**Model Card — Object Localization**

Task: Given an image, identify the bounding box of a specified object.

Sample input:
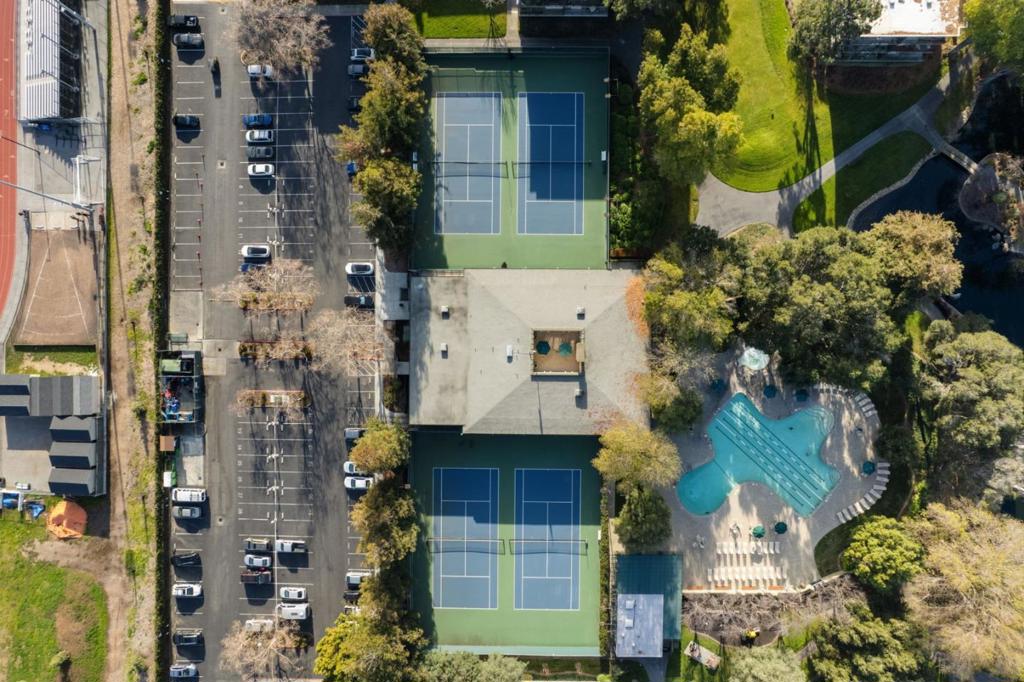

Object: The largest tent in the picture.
[49,501,87,537]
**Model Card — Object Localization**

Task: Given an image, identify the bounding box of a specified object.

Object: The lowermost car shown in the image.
[170,663,201,679]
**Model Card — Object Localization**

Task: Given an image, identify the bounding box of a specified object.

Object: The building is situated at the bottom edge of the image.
[613,550,683,657]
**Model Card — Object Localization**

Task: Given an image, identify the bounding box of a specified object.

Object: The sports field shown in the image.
[14,209,97,345]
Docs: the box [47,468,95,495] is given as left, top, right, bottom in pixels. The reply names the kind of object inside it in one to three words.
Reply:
shed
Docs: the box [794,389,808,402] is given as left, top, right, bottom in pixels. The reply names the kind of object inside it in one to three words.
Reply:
umbrella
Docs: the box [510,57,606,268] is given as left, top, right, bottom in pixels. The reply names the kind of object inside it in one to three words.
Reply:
tennis court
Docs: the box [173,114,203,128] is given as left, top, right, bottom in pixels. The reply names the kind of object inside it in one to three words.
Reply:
car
